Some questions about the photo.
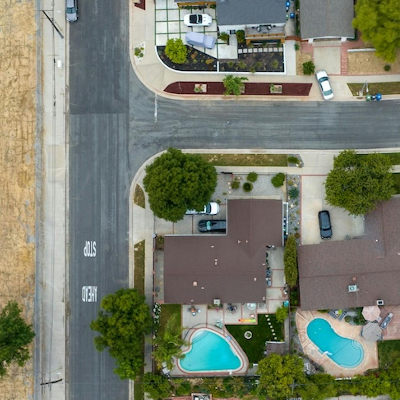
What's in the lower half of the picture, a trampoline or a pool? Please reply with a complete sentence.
There is a pool in the lower half of the picture.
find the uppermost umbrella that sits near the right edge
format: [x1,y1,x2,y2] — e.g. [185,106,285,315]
[364,307,381,322]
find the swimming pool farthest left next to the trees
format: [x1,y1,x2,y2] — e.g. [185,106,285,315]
[177,327,243,374]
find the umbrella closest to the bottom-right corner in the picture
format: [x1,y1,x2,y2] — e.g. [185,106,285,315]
[365,323,382,340]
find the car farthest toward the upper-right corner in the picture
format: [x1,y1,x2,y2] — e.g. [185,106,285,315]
[316,70,333,101]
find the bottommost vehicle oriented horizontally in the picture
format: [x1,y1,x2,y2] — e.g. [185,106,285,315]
[199,219,226,233]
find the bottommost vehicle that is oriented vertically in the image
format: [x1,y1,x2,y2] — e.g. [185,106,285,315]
[319,211,332,240]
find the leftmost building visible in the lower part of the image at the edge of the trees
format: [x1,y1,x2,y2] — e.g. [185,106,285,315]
[164,199,284,304]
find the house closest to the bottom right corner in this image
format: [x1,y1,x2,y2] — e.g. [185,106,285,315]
[297,196,400,310]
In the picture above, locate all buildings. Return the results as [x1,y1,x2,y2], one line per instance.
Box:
[301,0,370,43]
[175,0,286,29]
[164,199,284,304]
[297,196,400,310]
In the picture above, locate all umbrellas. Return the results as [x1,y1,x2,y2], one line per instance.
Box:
[365,323,382,340]
[364,307,381,322]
